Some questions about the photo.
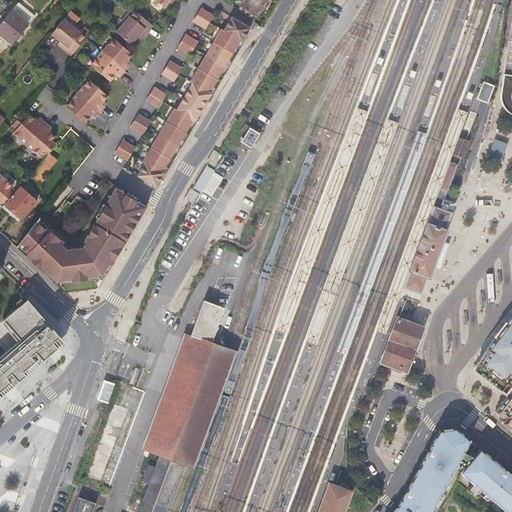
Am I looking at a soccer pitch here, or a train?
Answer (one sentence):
Of the two, only a train appears.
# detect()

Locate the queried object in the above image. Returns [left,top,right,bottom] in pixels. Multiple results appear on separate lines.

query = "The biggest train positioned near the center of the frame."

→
[224,153,312,392]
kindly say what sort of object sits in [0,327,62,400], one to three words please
building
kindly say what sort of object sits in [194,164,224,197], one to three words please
building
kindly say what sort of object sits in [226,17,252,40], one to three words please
house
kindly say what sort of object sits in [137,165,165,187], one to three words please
house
